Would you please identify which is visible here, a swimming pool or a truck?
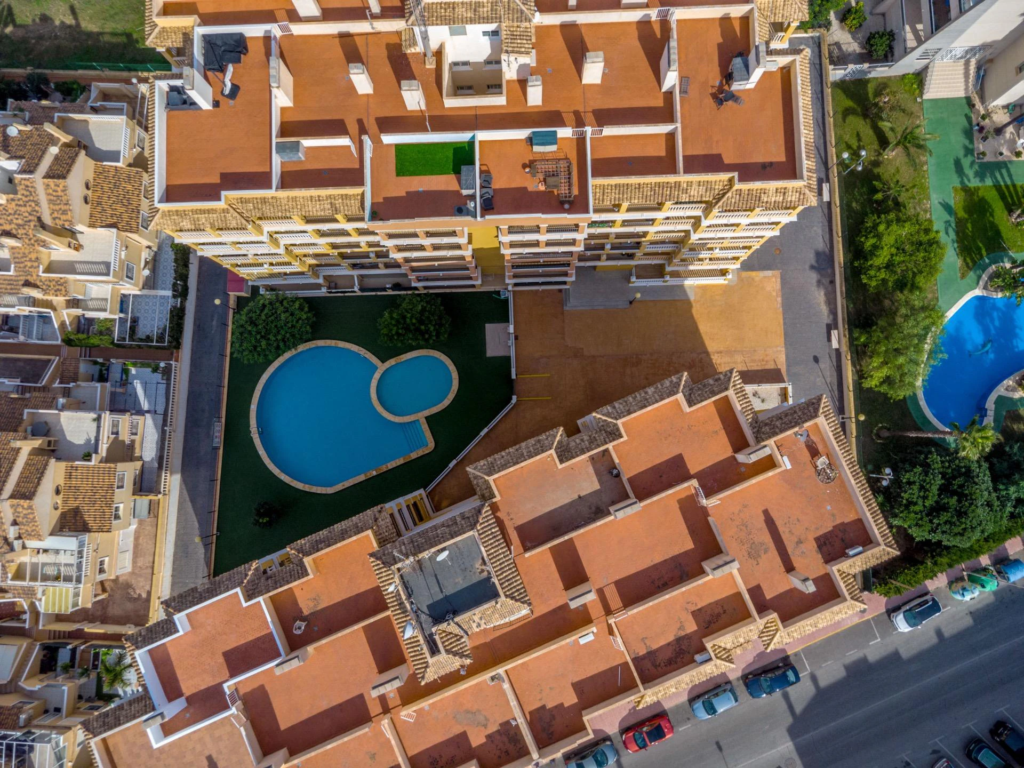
swimming pool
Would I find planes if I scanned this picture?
No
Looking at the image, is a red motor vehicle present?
Yes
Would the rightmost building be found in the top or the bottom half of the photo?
top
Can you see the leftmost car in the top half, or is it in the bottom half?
bottom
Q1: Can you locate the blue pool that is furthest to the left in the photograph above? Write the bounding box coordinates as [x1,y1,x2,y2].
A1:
[250,339,459,493]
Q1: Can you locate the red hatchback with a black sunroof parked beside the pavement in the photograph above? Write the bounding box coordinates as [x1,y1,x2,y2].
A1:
[621,712,675,752]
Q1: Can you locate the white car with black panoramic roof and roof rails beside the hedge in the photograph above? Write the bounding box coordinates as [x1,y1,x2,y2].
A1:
[886,592,946,631]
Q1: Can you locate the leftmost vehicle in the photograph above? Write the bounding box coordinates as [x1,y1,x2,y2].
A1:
[564,738,618,768]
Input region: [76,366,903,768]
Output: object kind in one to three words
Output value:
building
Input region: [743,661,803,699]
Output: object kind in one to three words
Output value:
car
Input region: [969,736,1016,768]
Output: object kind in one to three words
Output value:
car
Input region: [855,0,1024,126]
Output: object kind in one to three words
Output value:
building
